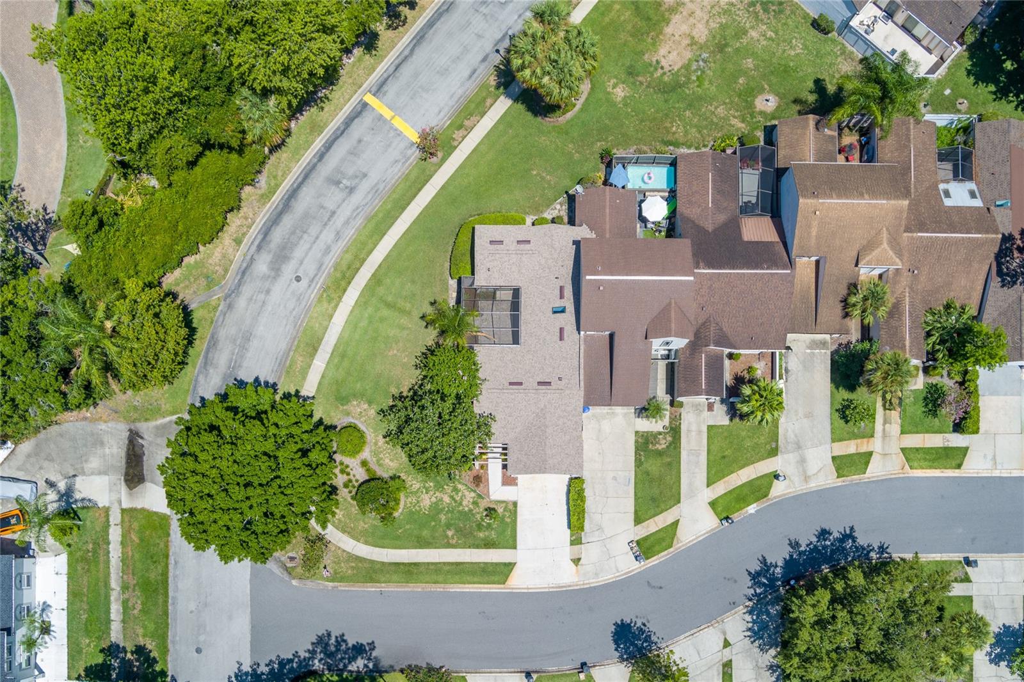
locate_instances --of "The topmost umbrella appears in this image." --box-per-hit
[608,165,630,187]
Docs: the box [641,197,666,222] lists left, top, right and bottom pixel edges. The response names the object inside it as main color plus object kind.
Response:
white umbrella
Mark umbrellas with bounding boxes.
[641,197,666,222]
[608,165,630,187]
